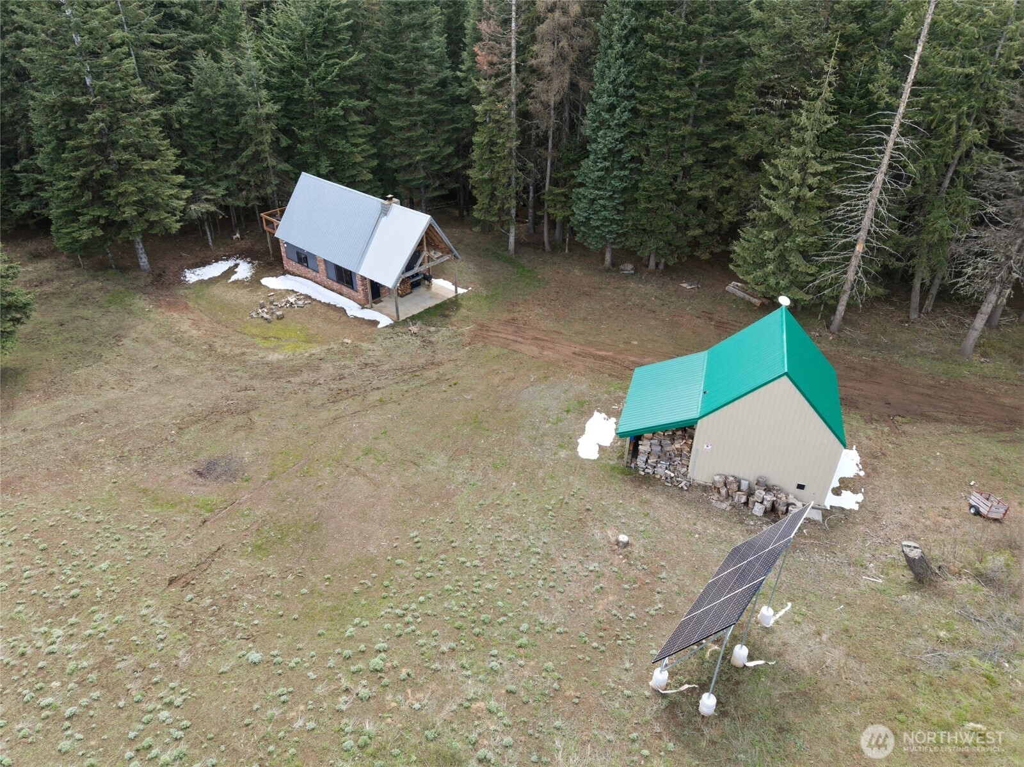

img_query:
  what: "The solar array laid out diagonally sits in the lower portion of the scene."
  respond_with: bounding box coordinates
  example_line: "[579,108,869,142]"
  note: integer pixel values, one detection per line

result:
[651,501,814,719]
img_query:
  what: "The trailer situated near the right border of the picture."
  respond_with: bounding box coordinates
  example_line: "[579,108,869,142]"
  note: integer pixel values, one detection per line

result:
[957,489,1013,522]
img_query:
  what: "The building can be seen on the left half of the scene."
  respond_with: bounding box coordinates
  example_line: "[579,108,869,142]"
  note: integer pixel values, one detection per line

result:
[261,171,462,324]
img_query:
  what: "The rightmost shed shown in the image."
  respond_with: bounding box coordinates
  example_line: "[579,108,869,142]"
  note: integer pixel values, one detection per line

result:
[616,304,848,519]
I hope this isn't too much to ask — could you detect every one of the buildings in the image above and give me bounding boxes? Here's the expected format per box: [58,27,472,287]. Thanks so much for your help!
[616,304,848,519]
[261,171,462,324]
